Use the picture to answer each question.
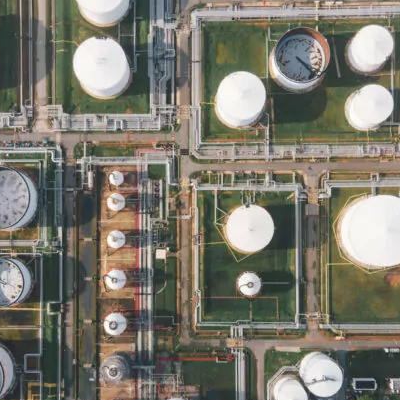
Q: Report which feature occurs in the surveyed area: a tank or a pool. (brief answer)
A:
tank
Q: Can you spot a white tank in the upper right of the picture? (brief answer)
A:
Yes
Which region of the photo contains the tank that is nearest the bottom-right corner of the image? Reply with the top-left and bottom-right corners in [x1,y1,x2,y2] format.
[297,351,346,398]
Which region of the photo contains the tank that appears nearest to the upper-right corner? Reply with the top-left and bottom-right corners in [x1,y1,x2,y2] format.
[341,23,394,79]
